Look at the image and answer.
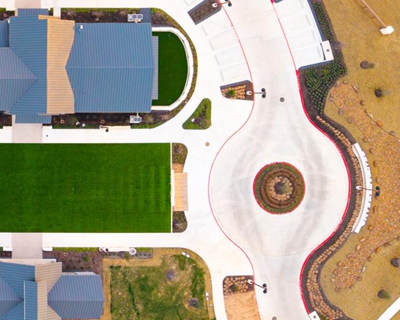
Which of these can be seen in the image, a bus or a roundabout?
roundabout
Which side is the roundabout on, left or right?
right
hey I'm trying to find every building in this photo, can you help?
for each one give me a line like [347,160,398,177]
[0,7,159,124]
[0,261,107,320]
